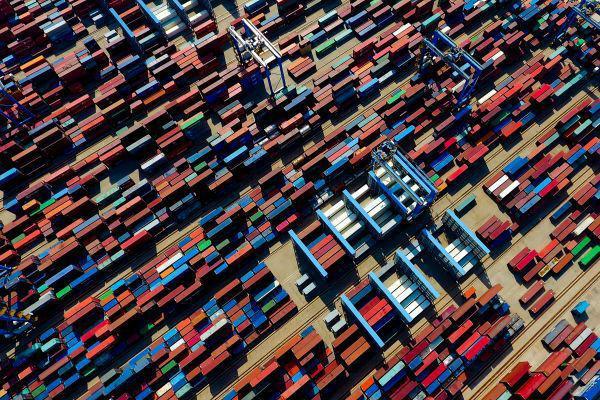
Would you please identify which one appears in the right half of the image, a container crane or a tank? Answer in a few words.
container crane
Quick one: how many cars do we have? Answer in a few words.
none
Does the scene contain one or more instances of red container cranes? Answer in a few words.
No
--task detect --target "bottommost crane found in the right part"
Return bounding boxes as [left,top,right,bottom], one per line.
[367,139,442,224]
